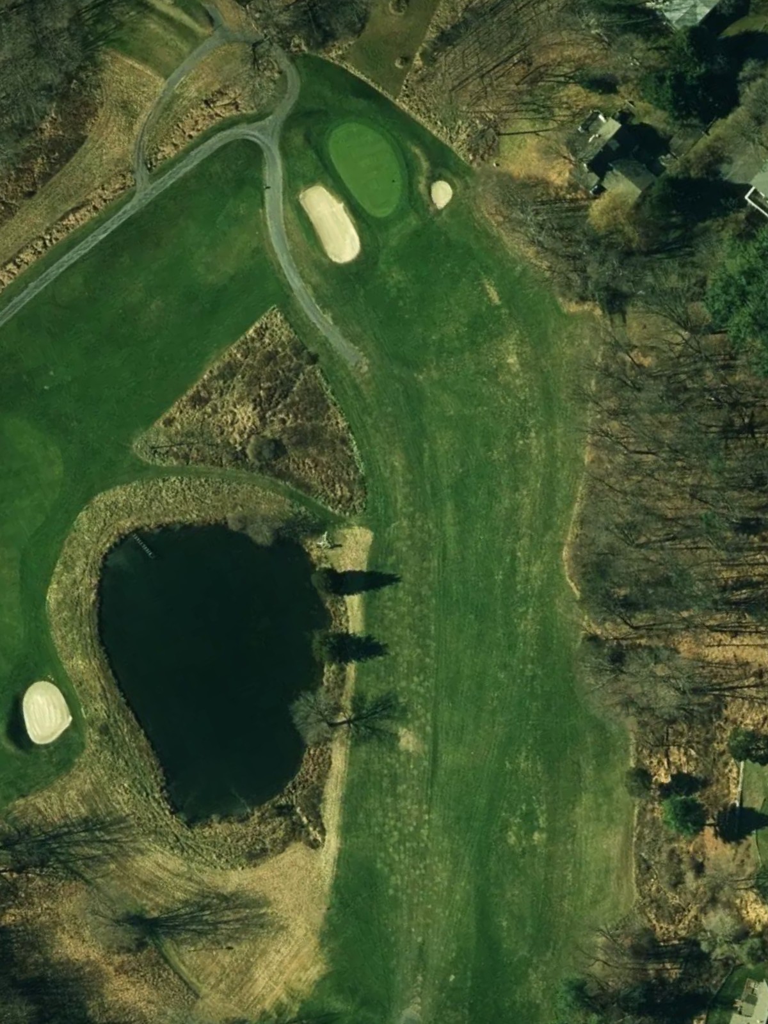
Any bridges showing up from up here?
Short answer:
No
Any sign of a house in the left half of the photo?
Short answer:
No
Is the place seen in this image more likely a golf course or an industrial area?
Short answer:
golf course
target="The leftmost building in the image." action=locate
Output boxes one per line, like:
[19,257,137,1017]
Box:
[577,110,658,209]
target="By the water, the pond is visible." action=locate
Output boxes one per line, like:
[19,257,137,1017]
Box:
[95,523,332,822]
